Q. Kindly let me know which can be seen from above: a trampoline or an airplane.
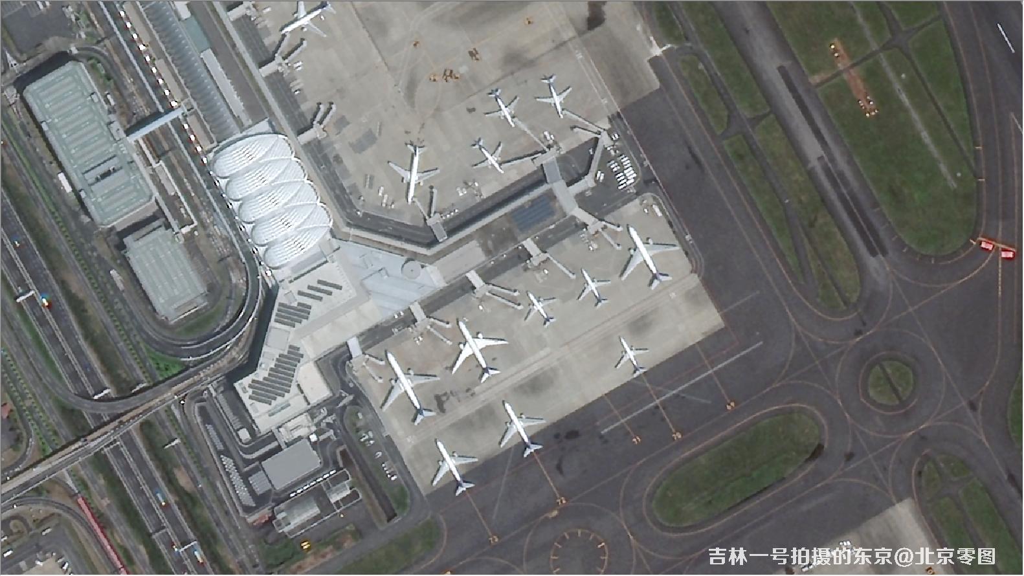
airplane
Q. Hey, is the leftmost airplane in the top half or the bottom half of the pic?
top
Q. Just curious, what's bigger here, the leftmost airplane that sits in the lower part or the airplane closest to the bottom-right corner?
the leftmost airplane that sits in the lower part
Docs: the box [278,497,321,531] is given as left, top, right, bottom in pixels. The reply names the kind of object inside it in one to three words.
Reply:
building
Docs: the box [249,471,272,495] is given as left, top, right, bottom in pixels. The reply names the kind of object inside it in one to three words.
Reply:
shed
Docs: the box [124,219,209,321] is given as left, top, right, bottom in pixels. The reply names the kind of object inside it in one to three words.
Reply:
building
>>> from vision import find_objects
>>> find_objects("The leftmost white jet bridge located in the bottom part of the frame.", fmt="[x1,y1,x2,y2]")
[348,338,387,383]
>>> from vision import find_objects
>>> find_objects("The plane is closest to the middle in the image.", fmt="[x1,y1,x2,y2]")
[526,292,559,330]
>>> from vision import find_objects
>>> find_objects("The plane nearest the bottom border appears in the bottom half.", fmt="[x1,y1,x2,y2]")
[433,440,478,497]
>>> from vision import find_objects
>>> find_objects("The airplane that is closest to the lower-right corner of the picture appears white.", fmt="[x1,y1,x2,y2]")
[616,337,650,379]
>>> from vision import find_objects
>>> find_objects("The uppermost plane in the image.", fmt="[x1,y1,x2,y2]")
[281,0,338,37]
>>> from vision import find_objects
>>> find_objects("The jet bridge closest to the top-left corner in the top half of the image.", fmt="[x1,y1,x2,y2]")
[228,0,259,20]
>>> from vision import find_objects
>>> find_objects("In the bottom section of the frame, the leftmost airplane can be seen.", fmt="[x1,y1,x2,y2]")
[382,352,441,426]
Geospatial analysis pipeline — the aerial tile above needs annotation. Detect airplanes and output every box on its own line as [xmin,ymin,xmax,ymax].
[454,322,510,386]
[622,226,682,292]
[472,136,503,173]
[281,0,338,37]
[484,86,518,127]
[616,337,650,379]
[502,401,546,459]
[578,269,611,309]
[382,352,441,426]
[535,73,571,118]
[433,440,478,497]
[388,142,440,204]
[526,292,559,330]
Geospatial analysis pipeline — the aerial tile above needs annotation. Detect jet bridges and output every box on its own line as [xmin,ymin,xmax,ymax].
[499,118,557,169]
[228,0,259,20]
[412,189,447,241]
[260,33,307,77]
[409,301,452,345]
[298,104,337,144]
[562,109,614,146]
[348,338,387,383]
[467,271,523,310]
[524,239,576,280]
[588,219,623,250]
